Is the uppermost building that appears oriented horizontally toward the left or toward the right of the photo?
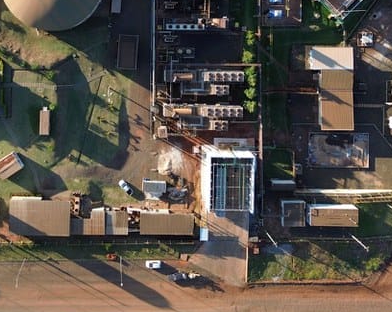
right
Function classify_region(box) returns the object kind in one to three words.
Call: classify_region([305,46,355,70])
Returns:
building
